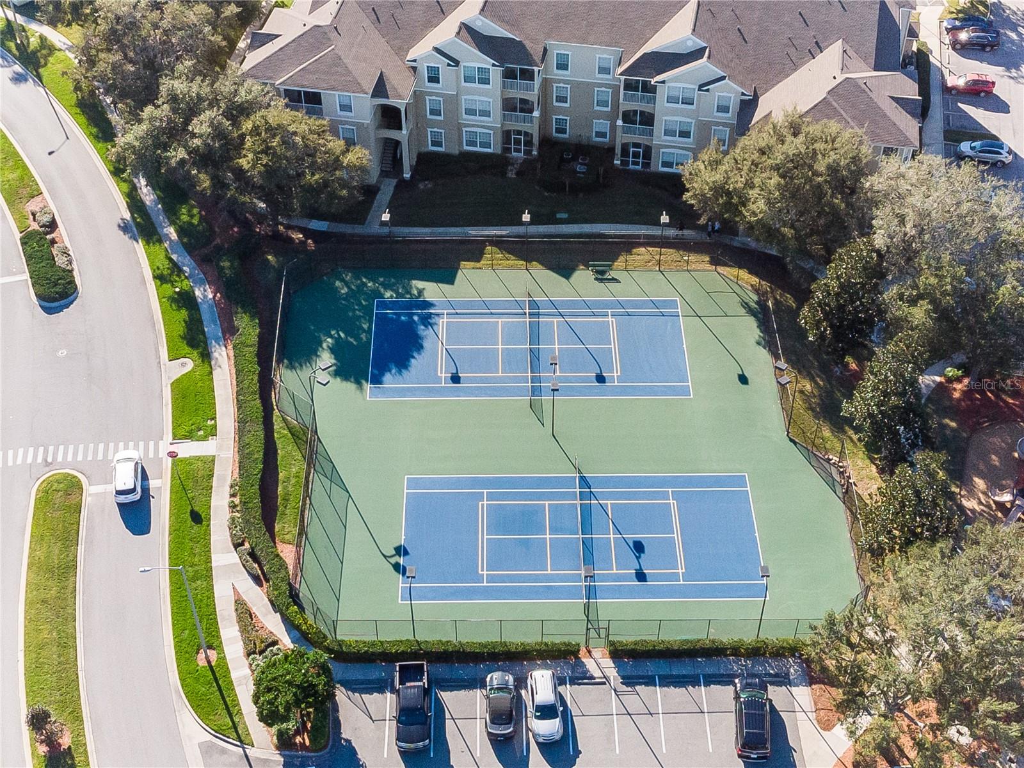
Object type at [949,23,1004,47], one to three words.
car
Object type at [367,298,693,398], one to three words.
tennis court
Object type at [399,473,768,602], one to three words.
tennis court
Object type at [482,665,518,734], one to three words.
car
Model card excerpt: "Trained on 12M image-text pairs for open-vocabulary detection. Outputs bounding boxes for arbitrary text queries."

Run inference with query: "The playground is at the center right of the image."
[920,374,1024,554]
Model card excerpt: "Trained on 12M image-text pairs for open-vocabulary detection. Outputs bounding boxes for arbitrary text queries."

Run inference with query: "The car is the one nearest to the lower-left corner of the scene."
[110,444,143,501]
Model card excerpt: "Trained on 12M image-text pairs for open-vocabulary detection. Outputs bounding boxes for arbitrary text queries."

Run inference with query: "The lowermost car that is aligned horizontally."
[958,136,1015,161]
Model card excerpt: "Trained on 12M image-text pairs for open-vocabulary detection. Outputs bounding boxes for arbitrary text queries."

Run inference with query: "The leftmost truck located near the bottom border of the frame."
[391,656,432,748]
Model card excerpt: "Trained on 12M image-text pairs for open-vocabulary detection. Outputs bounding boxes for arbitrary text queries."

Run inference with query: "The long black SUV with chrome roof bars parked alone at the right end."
[732,670,777,752]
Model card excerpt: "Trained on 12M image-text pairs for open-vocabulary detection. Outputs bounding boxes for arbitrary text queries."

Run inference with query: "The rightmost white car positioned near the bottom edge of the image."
[528,662,565,734]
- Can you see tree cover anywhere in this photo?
Yes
